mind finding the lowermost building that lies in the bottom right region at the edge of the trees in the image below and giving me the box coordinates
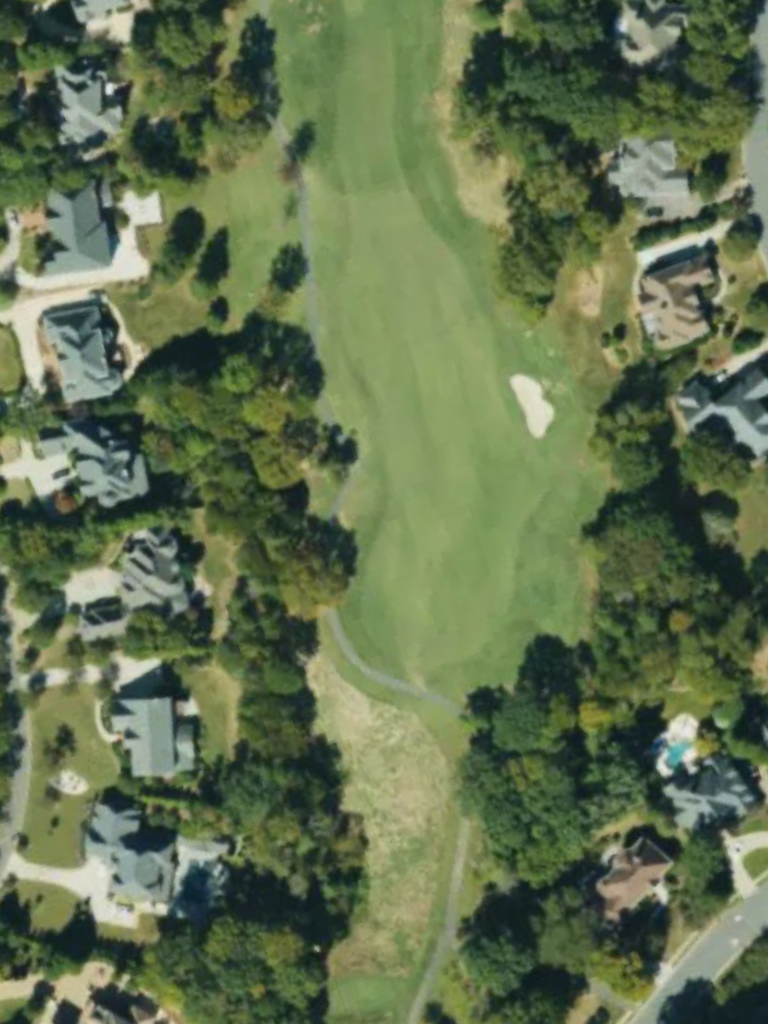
[593,834,677,927]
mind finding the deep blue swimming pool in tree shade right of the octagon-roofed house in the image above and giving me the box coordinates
[183,858,220,905]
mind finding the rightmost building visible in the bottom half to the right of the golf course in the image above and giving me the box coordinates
[663,760,758,830]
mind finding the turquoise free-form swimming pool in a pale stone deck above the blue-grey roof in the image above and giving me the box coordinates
[666,739,694,774]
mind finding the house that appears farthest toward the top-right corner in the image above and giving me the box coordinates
[621,0,687,62]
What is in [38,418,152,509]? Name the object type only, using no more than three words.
house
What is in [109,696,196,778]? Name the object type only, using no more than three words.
house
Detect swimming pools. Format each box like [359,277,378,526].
[183,858,220,905]
[666,739,694,774]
